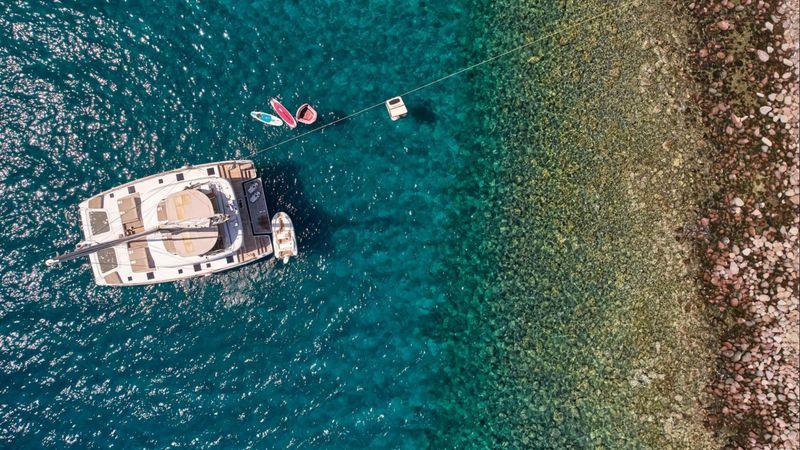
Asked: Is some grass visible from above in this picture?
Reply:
No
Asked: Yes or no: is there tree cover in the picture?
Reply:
No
